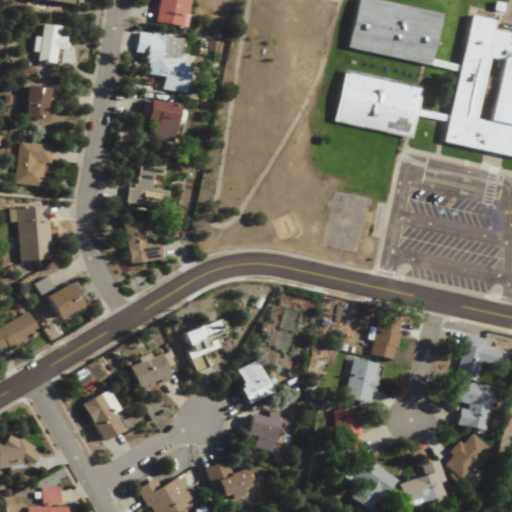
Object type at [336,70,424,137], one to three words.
building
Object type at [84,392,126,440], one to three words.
house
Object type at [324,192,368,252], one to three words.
basketball court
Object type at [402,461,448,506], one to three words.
house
